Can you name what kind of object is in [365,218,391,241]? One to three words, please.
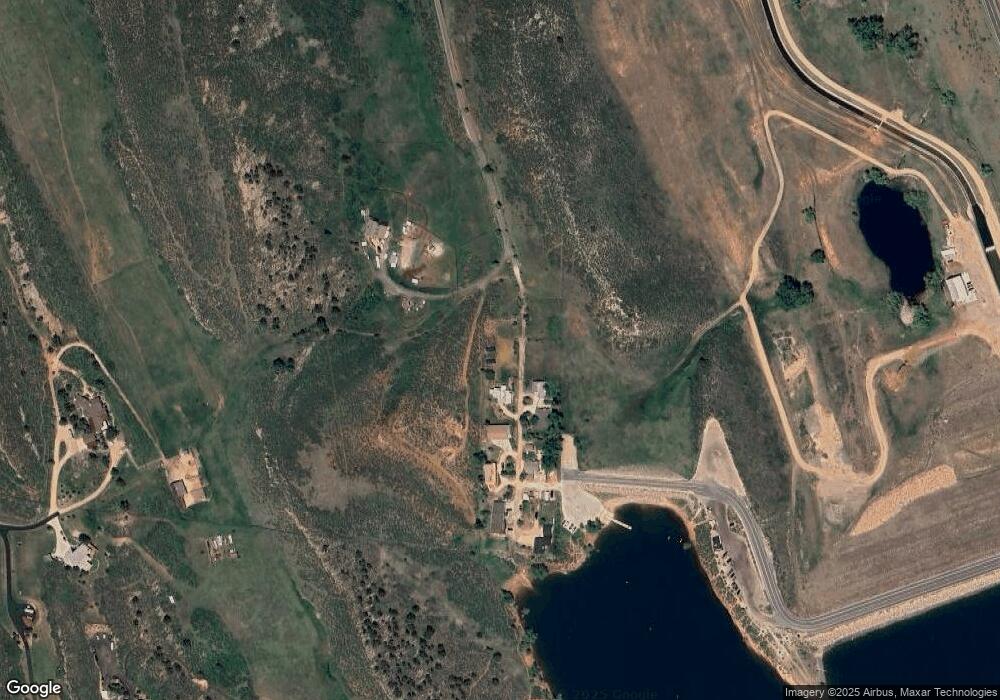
house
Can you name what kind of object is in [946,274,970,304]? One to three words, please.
building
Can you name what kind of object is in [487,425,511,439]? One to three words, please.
barn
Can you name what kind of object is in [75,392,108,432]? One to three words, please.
house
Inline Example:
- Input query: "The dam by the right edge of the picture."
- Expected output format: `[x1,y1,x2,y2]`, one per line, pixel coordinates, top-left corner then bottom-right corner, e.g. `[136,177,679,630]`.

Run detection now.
[777,465,1000,664]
